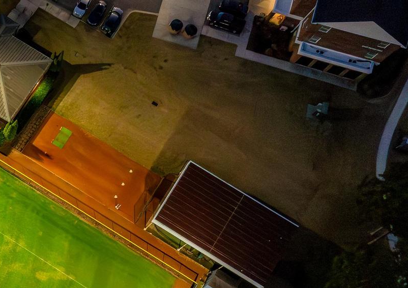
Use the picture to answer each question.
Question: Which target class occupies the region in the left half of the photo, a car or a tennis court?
car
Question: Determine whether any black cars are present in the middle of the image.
No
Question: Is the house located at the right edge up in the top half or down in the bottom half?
top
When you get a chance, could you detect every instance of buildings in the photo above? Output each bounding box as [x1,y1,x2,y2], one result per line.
[287,0,408,83]
[145,161,299,288]
[0,14,53,123]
